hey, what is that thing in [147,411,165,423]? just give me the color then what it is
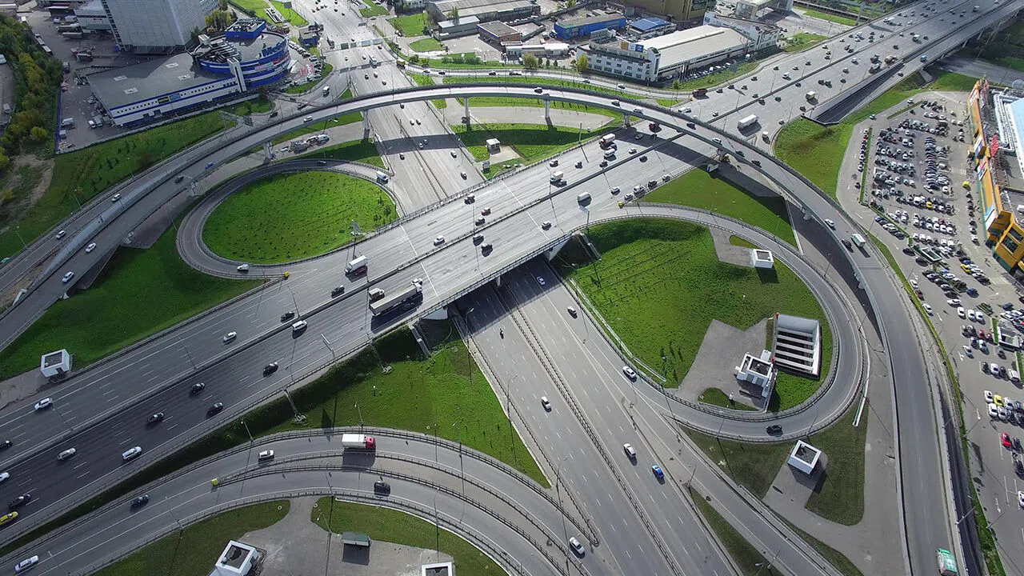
black vehicle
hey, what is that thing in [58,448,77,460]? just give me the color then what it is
gray vehicle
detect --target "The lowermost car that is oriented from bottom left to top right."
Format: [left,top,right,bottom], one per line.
[15,556,37,573]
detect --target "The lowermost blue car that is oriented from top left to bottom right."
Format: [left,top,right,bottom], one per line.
[651,465,664,480]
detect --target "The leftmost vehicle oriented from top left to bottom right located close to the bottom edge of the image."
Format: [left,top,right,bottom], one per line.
[569,538,585,555]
